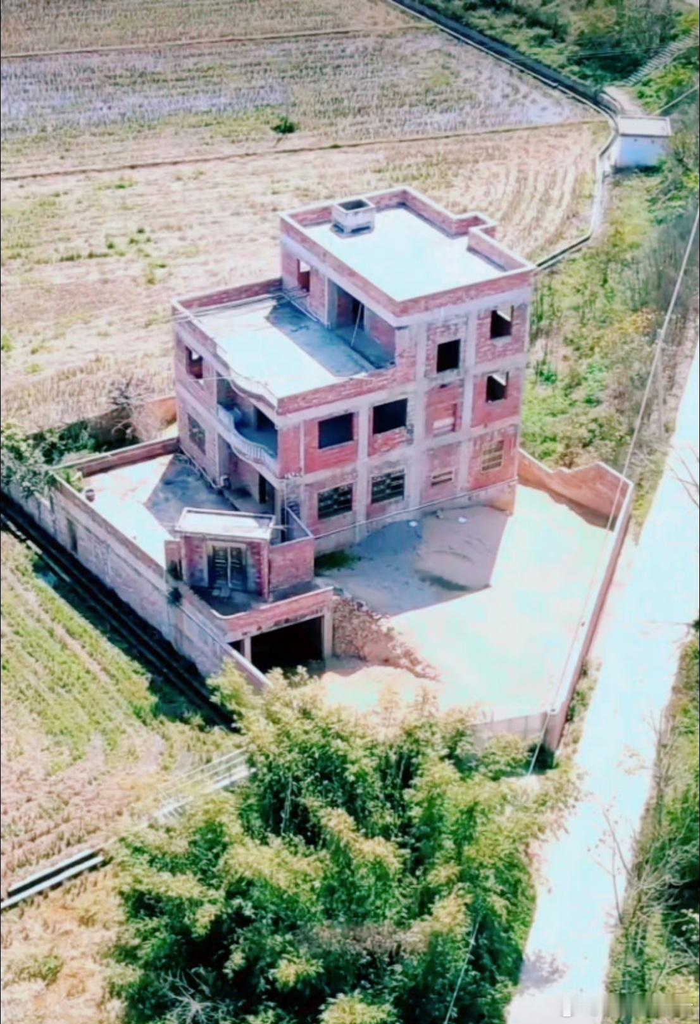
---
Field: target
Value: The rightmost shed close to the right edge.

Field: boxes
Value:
[610,114,670,176]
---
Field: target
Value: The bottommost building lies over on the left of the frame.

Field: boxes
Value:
[179,578,334,674]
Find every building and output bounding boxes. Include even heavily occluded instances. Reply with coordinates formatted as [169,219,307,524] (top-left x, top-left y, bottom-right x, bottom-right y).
[610,114,670,176]
[179,578,334,674]
[173,189,534,564]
